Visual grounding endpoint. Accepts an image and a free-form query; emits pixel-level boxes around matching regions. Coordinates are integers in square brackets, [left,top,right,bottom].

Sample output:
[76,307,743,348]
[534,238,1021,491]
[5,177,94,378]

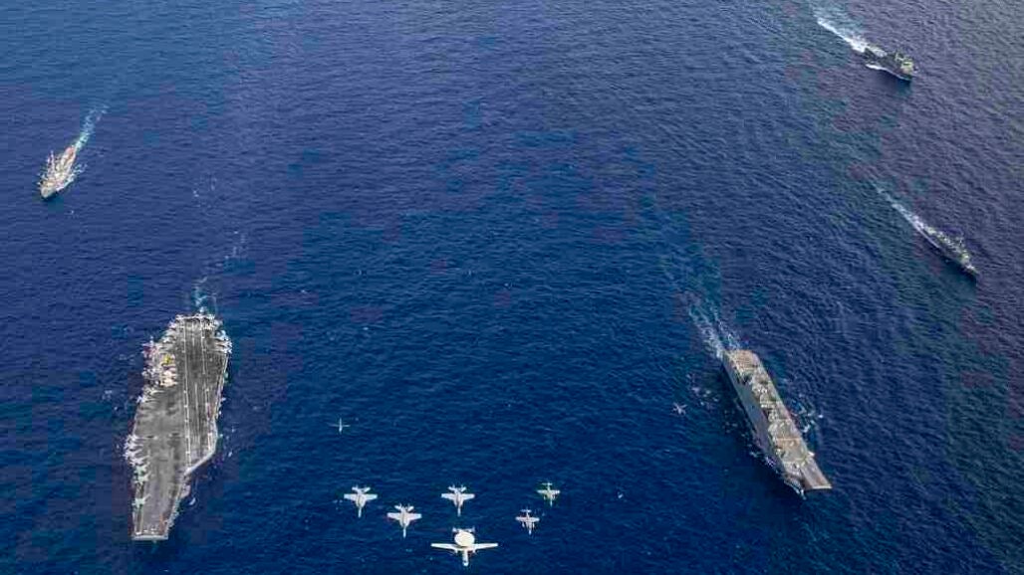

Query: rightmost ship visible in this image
[917,231,979,279]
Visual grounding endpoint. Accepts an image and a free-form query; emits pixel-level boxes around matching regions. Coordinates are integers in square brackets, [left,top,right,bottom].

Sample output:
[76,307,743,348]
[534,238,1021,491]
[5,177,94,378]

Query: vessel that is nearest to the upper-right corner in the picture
[864,51,916,82]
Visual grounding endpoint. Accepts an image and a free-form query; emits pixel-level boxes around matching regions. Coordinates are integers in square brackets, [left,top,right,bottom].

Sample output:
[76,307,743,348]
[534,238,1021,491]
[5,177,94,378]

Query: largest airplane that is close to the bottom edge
[432,529,499,567]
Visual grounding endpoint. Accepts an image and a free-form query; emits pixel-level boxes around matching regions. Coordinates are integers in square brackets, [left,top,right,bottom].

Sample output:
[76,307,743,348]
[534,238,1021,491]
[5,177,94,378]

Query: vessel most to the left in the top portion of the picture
[45,141,85,198]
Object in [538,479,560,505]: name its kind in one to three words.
airplane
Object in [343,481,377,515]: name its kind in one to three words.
airplane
